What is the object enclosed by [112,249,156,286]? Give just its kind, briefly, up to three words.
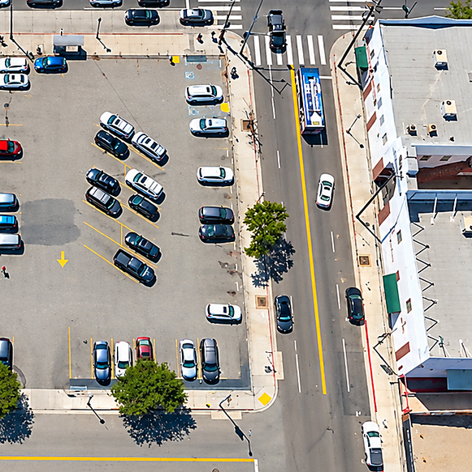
truck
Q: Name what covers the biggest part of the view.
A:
paved ground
